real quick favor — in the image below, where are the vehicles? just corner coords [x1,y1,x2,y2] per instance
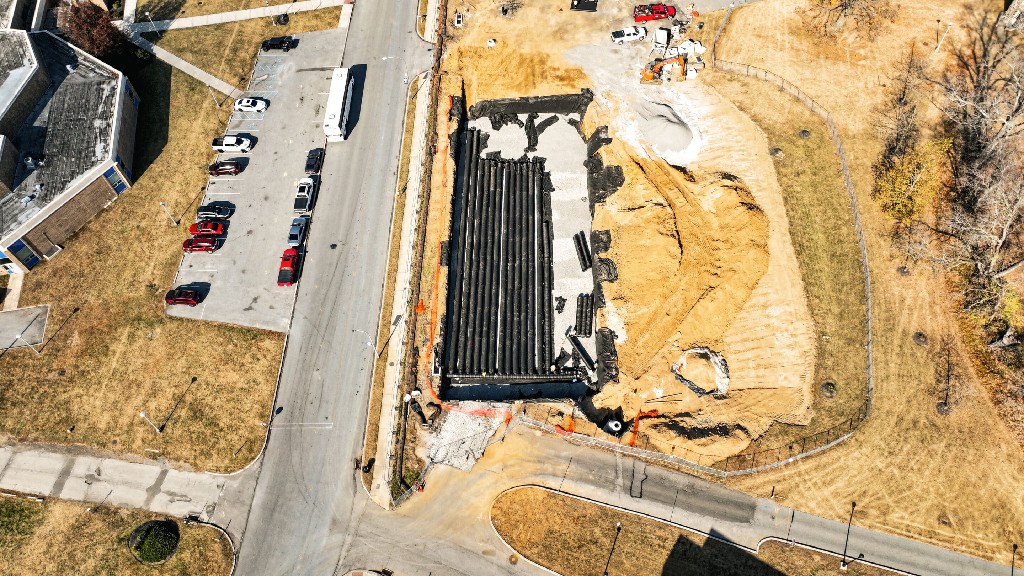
[293,178,315,213]
[194,204,233,222]
[207,161,244,178]
[276,247,300,287]
[258,36,297,53]
[210,136,254,154]
[287,217,309,247]
[610,27,649,45]
[304,149,324,176]
[325,69,355,151]
[162,289,205,308]
[233,98,269,113]
[181,237,221,255]
[639,52,688,84]
[188,221,227,238]
[633,0,677,21]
